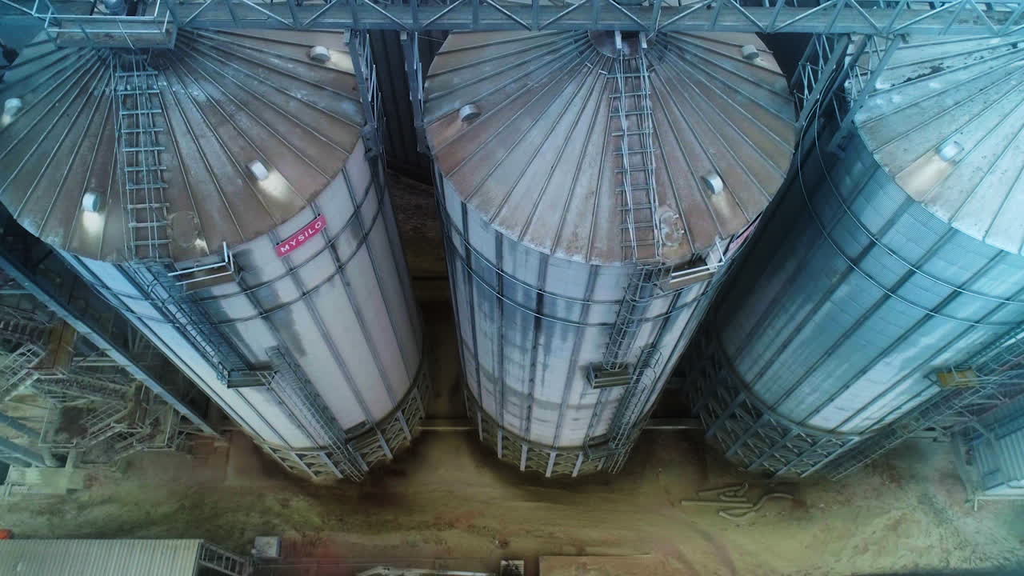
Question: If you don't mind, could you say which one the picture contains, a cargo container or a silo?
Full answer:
Visible in the photo is a silo.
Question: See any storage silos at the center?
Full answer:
Yes, a storage silo is visible at the center.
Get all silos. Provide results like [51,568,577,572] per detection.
[0,23,438,482]
[681,0,1024,479]
[423,31,799,480]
